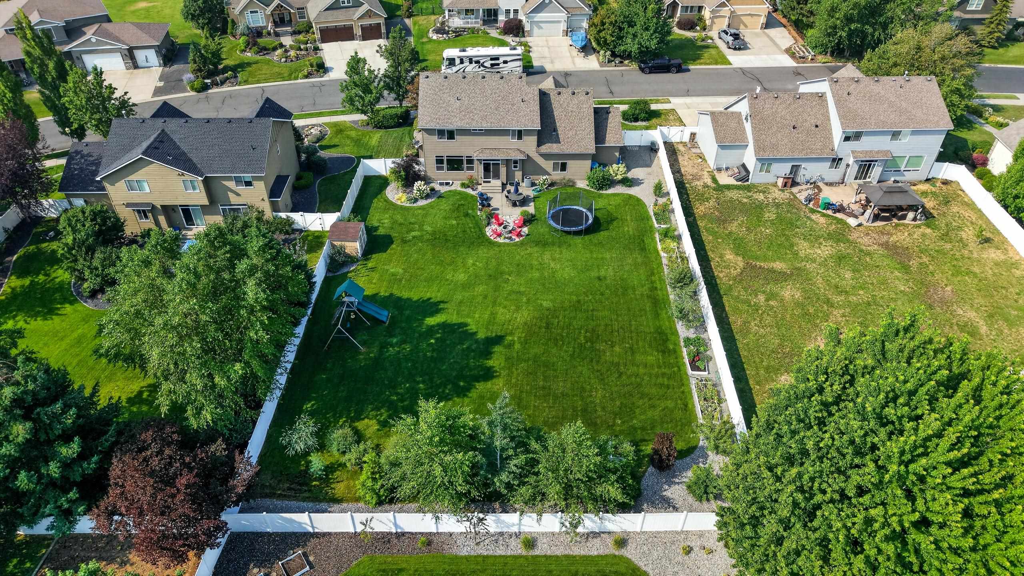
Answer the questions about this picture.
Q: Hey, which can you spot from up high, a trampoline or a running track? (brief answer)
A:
trampoline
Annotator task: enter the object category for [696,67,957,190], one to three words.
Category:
house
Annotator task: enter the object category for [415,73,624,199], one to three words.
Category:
house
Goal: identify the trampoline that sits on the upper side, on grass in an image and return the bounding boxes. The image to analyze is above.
[542,190,596,241]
